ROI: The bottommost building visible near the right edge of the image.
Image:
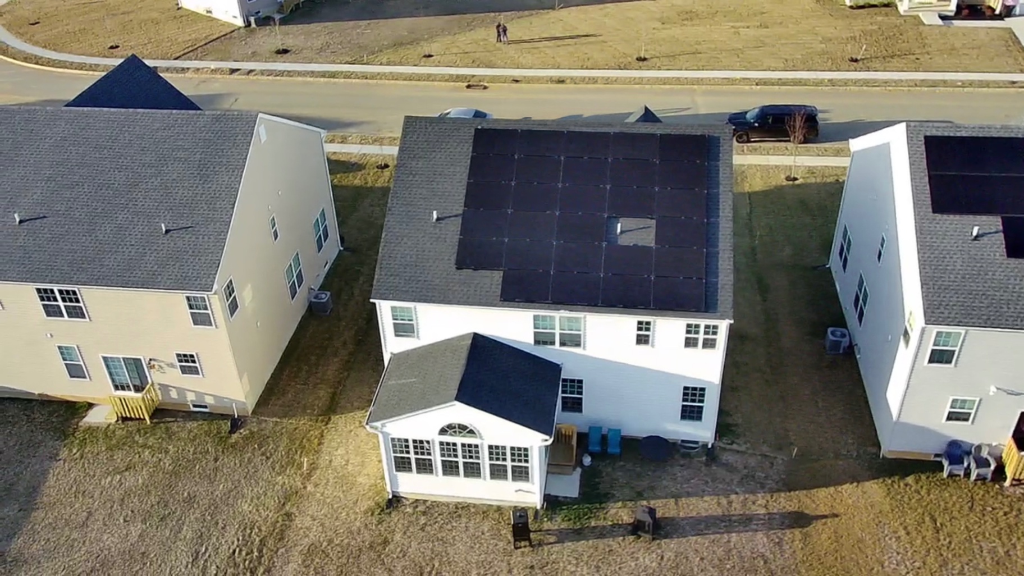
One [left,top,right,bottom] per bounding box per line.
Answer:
[822,123,1024,464]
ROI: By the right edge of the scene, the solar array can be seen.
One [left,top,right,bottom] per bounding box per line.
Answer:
[926,133,1024,260]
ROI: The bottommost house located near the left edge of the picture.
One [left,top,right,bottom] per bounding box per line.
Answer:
[0,54,350,437]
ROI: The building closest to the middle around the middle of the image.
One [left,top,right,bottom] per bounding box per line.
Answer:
[361,105,735,525]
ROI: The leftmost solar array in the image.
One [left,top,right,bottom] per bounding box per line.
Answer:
[455,128,708,312]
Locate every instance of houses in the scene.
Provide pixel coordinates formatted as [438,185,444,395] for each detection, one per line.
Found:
[0,54,350,437]
[822,123,1024,464]
[190,0,338,27]
[843,0,1024,20]
[361,105,735,525]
